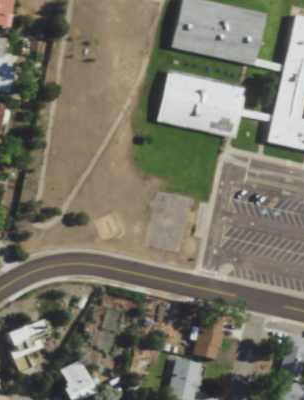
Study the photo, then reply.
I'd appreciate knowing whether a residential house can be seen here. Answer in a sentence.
Yes, a residential house is visible in the scene.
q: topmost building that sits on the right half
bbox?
[172,0,268,66]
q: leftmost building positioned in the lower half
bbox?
[8,320,48,372]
